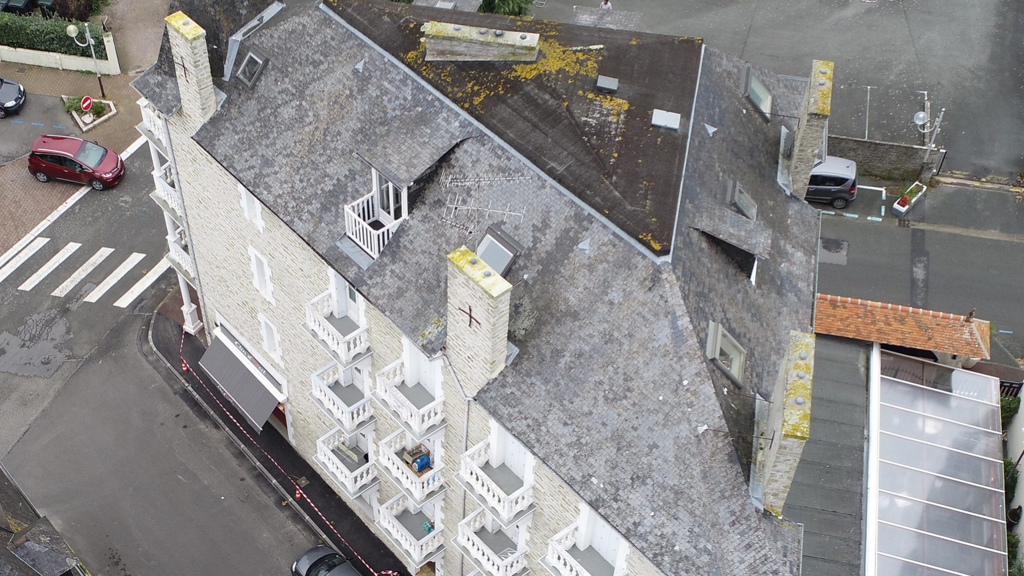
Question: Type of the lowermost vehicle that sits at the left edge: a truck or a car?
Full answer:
The lowermost vehicle that sits at the left edge appears to be a car.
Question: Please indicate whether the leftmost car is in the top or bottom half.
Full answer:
You can find the leftmost car in the top half.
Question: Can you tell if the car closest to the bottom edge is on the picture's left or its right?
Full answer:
The car closest to the bottom edge is on the left side of the image.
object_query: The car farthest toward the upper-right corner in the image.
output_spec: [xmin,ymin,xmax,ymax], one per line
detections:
[808,154,859,208]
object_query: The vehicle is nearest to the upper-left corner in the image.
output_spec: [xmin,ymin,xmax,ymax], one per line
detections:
[0,76,29,117]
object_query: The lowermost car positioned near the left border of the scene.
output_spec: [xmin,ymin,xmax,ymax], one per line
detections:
[21,129,126,189]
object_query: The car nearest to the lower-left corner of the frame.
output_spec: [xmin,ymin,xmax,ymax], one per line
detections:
[286,539,365,576]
